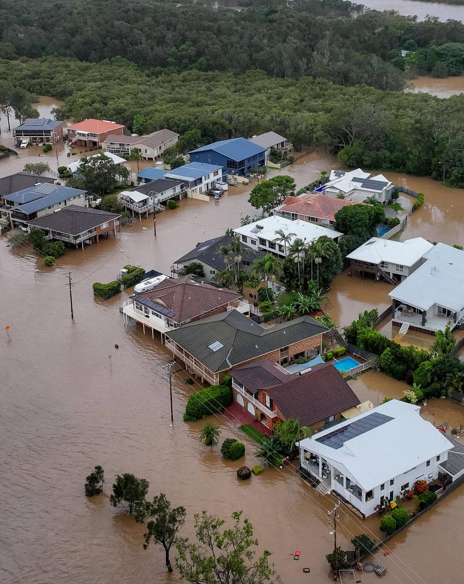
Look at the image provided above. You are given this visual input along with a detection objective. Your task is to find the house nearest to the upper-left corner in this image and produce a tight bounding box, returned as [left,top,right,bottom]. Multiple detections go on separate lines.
[13,111,64,145]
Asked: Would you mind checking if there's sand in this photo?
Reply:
No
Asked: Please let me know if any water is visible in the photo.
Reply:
Yes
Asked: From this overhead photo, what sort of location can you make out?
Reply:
residential area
